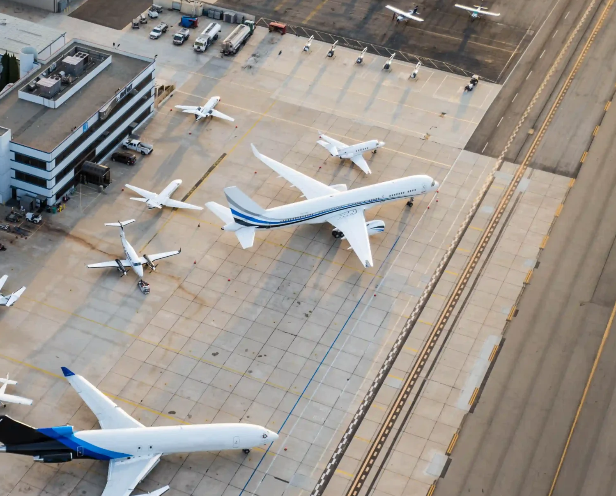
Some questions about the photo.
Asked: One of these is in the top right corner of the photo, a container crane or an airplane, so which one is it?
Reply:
airplane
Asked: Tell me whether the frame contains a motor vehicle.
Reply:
Yes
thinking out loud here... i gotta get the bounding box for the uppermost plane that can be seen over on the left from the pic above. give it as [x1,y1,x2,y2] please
[177,101,234,124]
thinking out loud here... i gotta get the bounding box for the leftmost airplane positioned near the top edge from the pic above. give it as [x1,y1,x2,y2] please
[384,6,424,26]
